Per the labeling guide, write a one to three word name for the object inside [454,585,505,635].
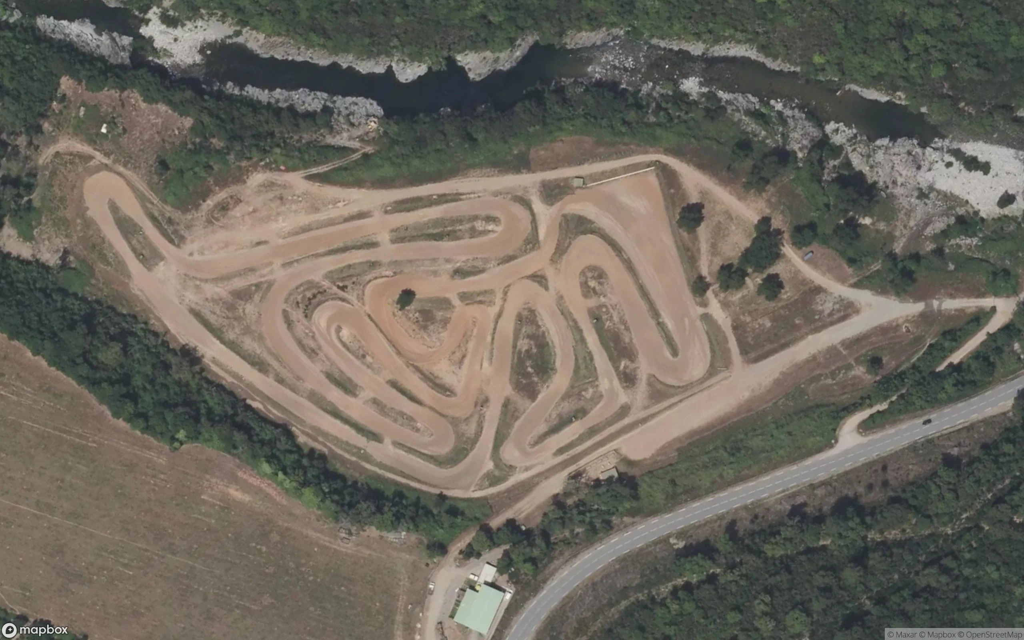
building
